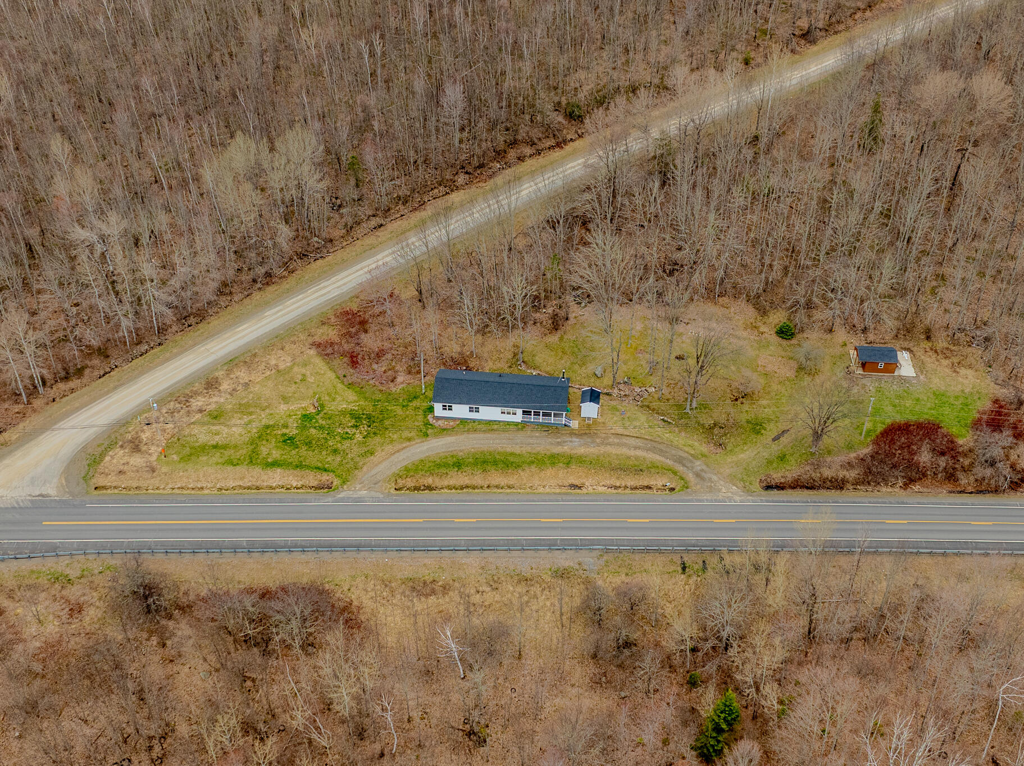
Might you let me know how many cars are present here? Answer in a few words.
zero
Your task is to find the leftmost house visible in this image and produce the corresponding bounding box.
[432,369,570,428]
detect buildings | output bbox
[580,388,600,418]
[432,369,570,428]
[853,347,899,373]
